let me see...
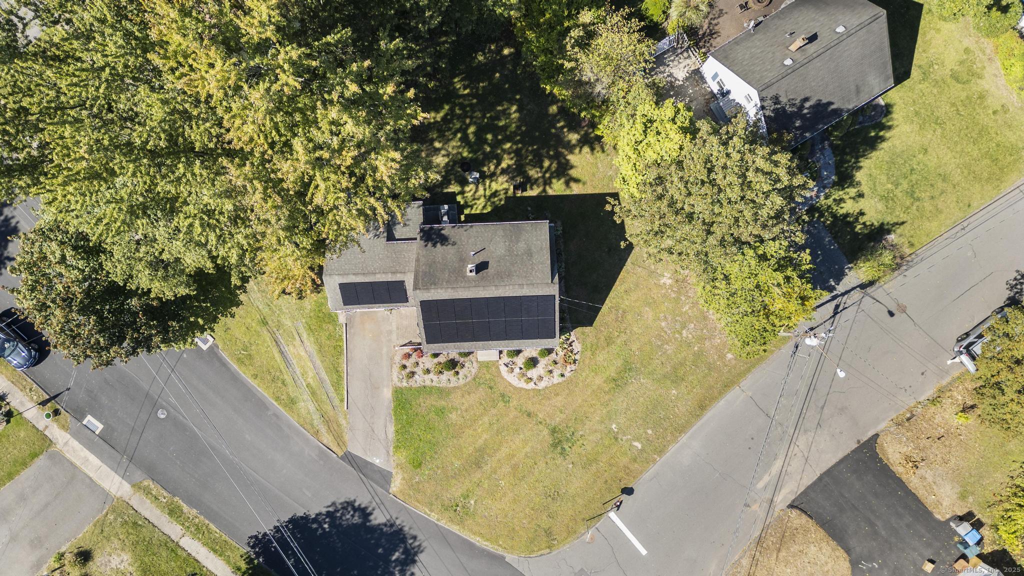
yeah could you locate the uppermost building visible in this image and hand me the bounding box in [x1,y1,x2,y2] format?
[701,0,896,163]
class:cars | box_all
[0,315,38,371]
[959,306,1024,372]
